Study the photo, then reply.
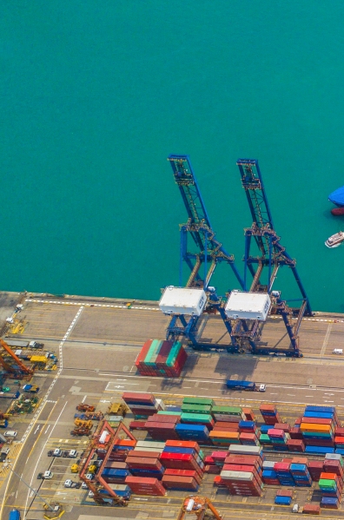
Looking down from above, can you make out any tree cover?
No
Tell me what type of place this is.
port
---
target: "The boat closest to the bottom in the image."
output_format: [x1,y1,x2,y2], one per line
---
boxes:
[326,231,344,245]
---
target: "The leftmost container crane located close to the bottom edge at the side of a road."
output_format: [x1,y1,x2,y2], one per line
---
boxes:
[76,420,144,506]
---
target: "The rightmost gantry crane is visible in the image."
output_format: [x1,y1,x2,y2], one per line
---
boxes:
[226,162,312,361]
